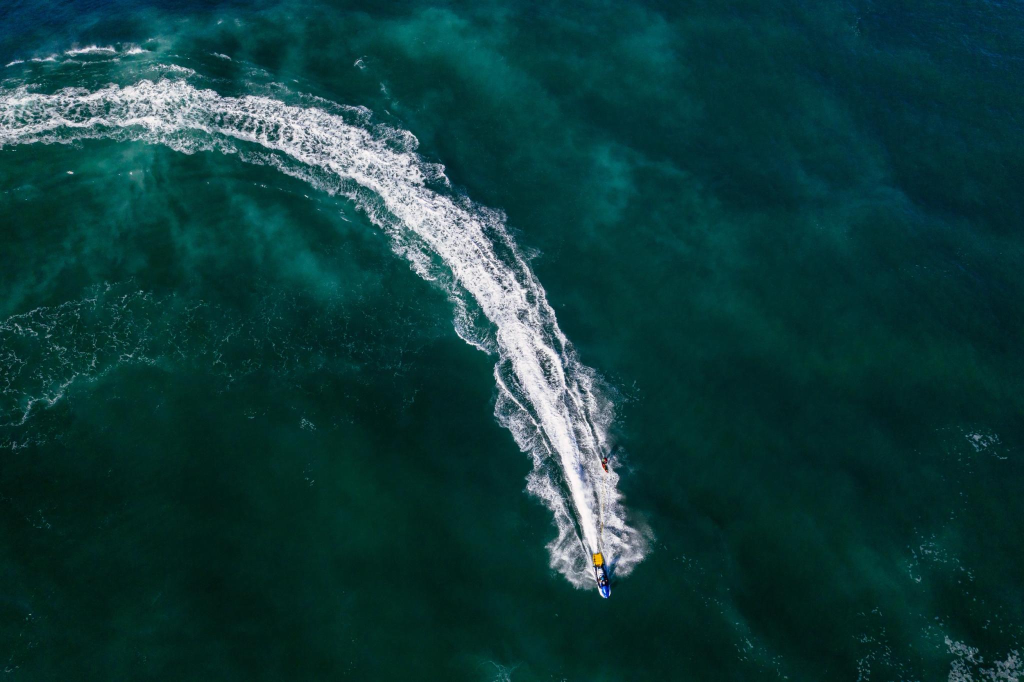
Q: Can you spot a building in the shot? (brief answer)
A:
No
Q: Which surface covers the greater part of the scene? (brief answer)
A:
water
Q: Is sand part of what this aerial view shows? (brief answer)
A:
No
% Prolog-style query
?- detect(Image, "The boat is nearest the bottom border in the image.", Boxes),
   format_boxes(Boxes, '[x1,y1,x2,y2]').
[595,565,609,598]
